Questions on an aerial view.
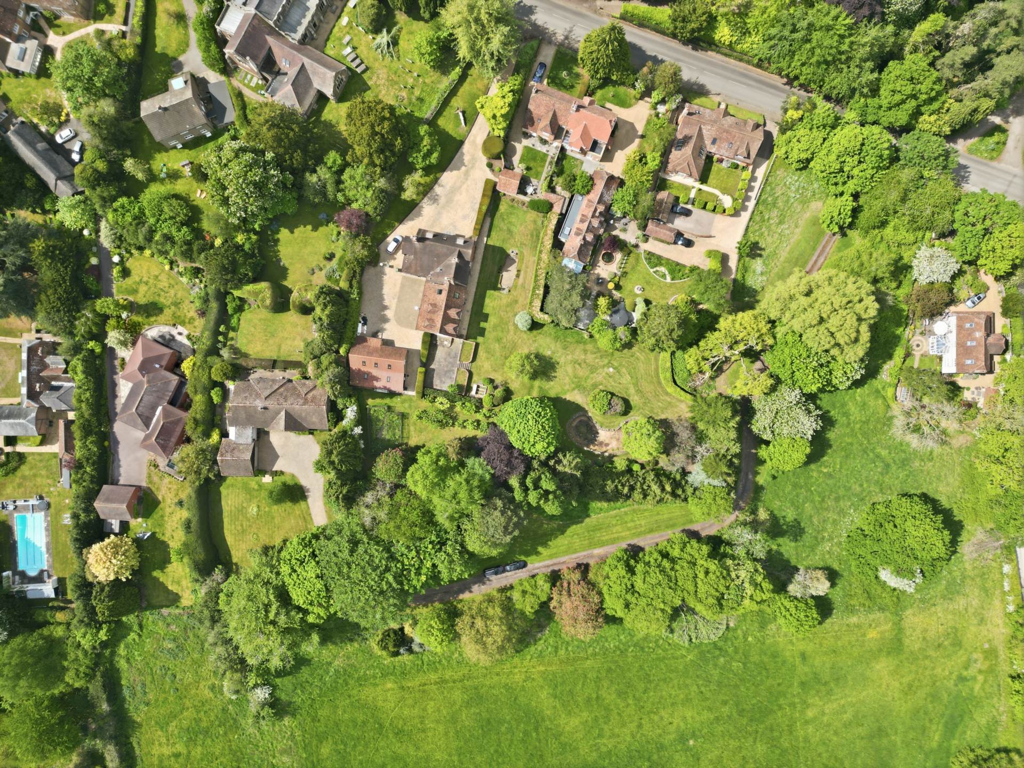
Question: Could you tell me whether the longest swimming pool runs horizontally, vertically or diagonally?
vertically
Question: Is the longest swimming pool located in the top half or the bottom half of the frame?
bottom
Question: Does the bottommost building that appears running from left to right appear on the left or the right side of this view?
left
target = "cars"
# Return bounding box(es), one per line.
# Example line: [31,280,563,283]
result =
[669,204,693,219]
[964,290,988,309]
[532,61,547,85]
[673,234,697,249]
[54,125,78,146]
[483,564,506,579]
[71,139,86,163]
[384,233,405,257]
[504,559,527,573]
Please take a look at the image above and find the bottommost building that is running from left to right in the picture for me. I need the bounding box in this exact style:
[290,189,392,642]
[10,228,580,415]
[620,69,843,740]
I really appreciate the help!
[12,575,66,599]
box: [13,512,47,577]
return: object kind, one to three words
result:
swimming pool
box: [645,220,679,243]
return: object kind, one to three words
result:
shed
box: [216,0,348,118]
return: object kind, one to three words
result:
building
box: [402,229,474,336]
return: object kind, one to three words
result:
house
